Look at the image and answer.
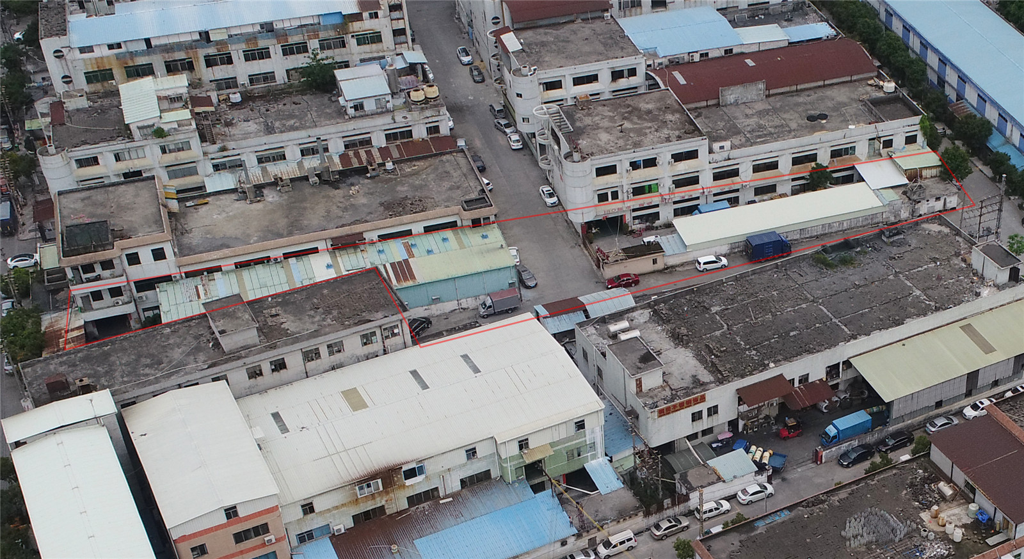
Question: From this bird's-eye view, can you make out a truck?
Yes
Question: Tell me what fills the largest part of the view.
buildings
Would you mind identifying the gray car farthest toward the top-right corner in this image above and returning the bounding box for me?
[931,119,949,134]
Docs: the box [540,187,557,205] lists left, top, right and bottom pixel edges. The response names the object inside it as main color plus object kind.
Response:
white car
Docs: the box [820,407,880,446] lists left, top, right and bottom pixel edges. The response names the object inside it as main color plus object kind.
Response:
blue truck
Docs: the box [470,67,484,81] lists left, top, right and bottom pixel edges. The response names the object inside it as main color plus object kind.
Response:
gray car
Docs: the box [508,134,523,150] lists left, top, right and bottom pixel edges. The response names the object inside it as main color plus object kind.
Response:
white car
